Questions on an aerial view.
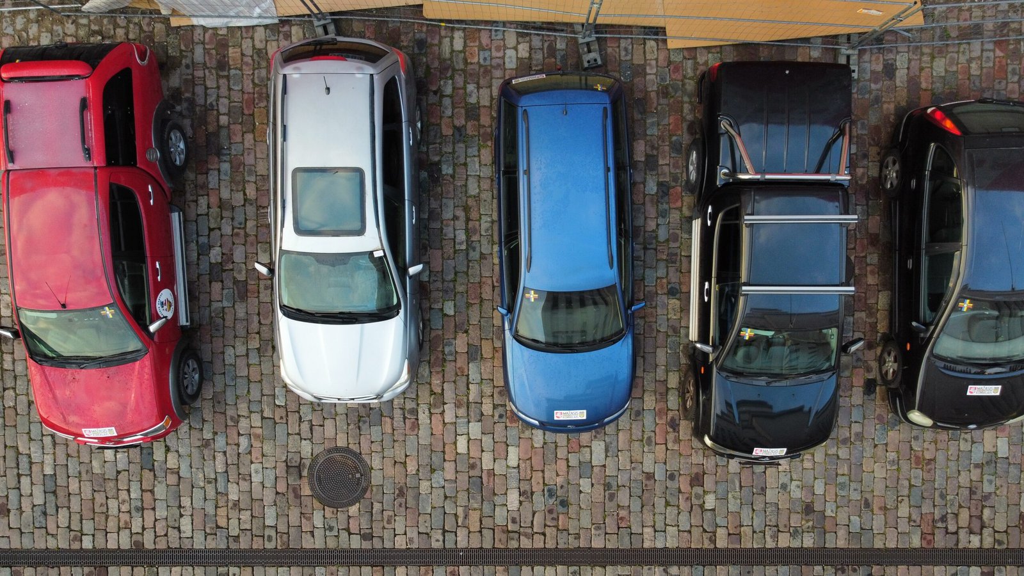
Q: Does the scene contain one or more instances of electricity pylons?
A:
No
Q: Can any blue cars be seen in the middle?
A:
Yes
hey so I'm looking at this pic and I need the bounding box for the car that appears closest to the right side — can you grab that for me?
[881,97,1024,433]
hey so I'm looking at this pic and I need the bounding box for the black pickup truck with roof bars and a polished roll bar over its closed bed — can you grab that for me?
[687,61,868,465]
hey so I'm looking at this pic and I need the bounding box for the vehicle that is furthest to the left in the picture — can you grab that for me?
[0,41,205,454]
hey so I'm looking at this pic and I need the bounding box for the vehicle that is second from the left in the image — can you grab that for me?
[252,34,428,408]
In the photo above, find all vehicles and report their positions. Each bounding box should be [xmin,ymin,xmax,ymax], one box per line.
[252,34,428,408]
[881,97,1024,433]
[687,61,868,465]
[0,41,205,454]
[492,64,647,434]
